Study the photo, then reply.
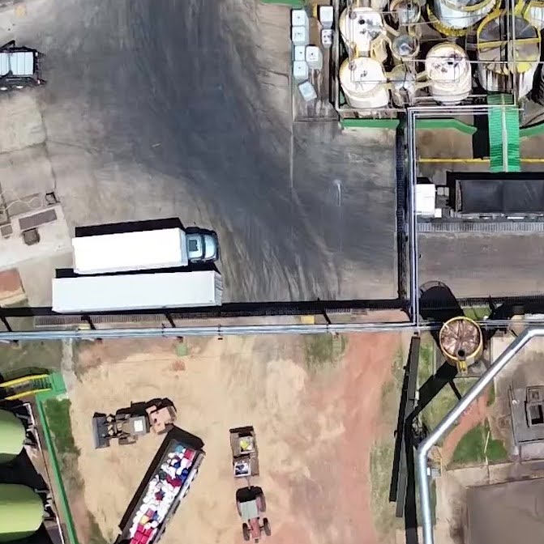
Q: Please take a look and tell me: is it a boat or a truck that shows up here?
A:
truck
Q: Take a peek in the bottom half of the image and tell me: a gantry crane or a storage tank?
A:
storage tank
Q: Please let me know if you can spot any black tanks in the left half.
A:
No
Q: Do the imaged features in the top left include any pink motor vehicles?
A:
No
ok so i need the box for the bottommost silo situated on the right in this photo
[437,314,498,387]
